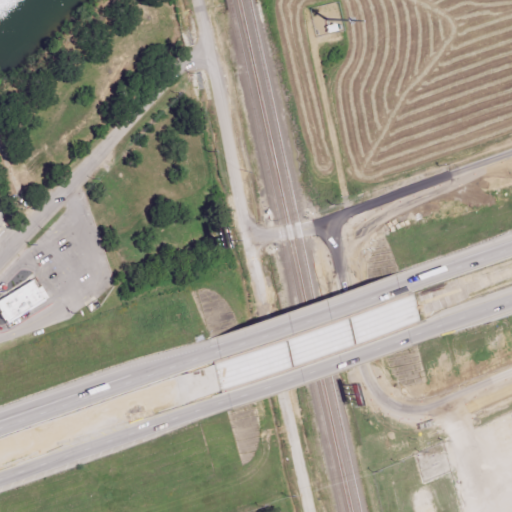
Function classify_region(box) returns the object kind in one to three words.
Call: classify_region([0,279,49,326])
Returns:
building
